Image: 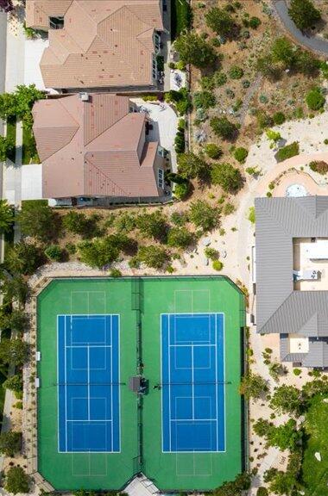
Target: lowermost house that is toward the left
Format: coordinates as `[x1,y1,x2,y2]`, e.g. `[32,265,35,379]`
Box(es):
[32,91,163,198]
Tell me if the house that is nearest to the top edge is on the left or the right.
left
